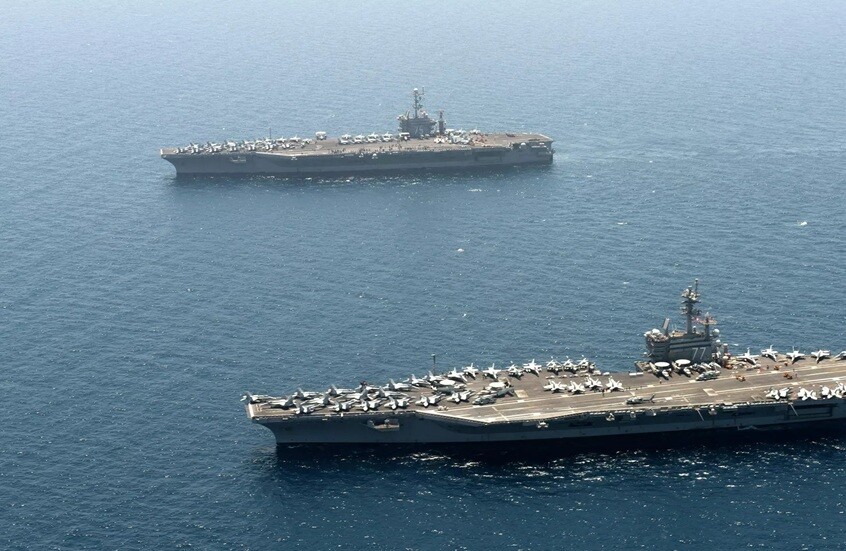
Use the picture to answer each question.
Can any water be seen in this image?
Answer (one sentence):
Yes, the picture does contain water.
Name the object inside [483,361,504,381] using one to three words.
airplane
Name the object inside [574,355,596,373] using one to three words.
airplane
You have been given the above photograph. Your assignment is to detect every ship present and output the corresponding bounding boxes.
[157,86,552,175]
[240,280,846,449]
